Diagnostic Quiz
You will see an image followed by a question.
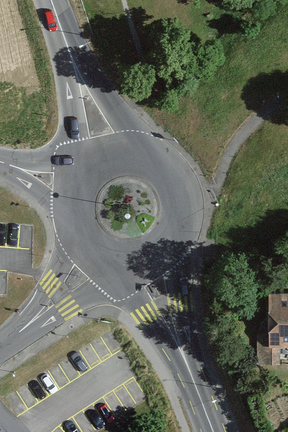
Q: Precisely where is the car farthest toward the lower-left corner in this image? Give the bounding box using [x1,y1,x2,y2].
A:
[28,379,47,400]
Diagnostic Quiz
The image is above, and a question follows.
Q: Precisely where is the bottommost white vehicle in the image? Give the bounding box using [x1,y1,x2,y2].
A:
[40,374,58,394]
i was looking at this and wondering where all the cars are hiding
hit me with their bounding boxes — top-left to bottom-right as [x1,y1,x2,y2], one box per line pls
[97,404,114,424]
[40,374,58,394]
[0,223,6,246]
[8,223,19,246]
[44,10,58,32]
[28,379,47,400]
[70,116,80,139]
[71,351,89,373]
[65,420,80,432]
[87,410,105,432]
[52,156,74,166]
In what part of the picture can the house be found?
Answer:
bottom right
